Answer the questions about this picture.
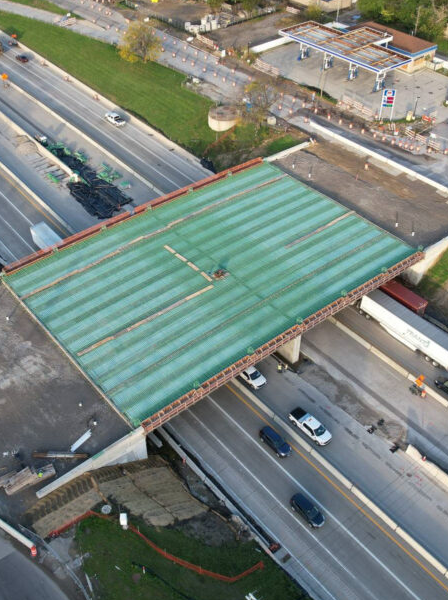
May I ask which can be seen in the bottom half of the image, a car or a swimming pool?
car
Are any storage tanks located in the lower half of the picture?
No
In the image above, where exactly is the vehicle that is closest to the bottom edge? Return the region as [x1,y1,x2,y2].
[283,489,330,536]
